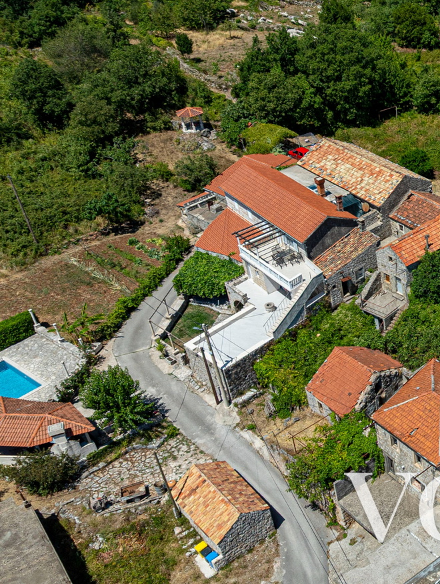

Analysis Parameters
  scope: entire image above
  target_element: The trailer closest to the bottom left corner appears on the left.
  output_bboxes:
[96,477,149,503]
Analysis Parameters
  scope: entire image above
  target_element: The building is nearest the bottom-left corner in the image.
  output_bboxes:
[0,500,70,584]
